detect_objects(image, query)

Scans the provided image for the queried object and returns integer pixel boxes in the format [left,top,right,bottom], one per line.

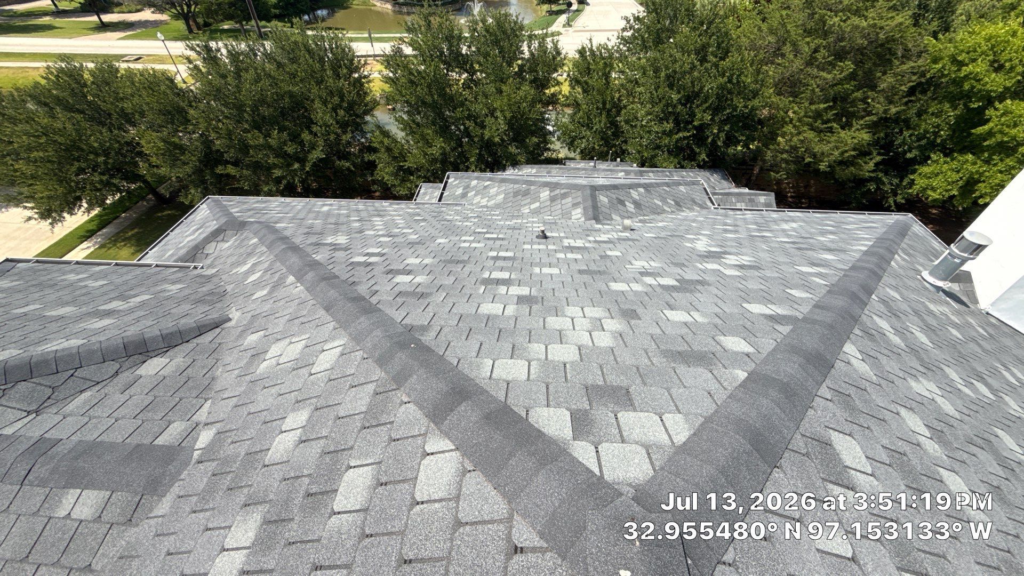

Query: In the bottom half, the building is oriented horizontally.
[0,148,1024,576]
